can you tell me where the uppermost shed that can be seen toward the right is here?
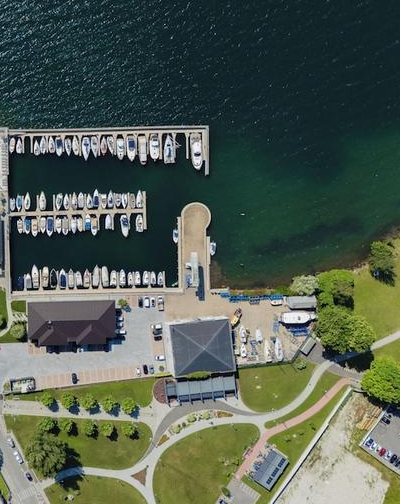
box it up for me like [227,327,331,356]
[283,296,316,309]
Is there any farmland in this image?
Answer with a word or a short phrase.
No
